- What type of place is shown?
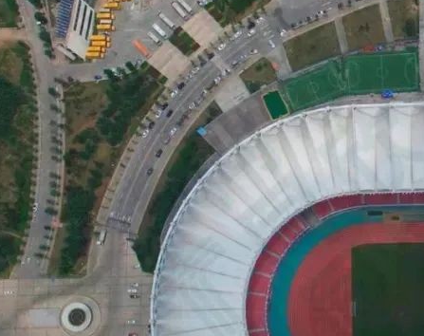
sports ground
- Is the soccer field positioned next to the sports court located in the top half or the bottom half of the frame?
top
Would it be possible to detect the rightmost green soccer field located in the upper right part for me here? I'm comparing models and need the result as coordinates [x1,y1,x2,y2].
[342,46,419,95]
